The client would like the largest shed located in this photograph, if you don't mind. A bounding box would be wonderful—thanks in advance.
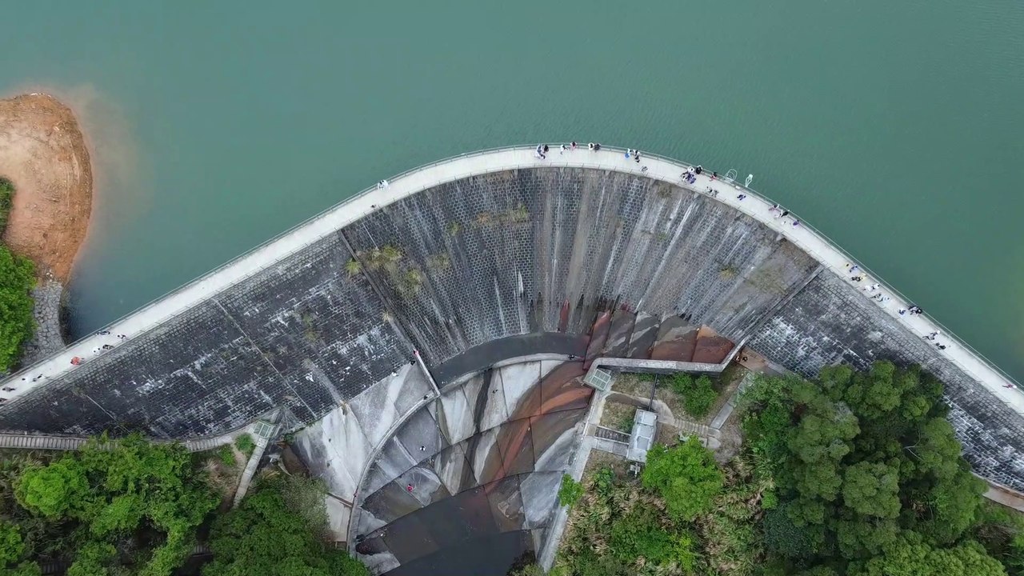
[625,409,657,462]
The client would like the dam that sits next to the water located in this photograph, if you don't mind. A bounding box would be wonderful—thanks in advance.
[0,144,1024,492]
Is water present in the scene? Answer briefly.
Yes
